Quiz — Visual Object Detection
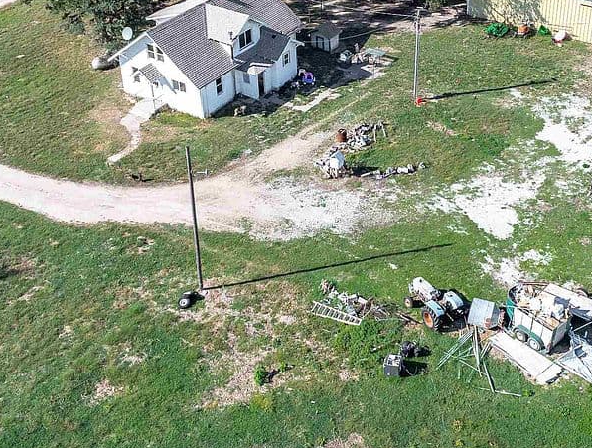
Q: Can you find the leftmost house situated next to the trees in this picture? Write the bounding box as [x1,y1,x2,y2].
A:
[108,0,304,117]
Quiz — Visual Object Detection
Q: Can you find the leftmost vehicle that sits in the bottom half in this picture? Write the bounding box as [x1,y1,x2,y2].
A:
[410,276,474,335]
